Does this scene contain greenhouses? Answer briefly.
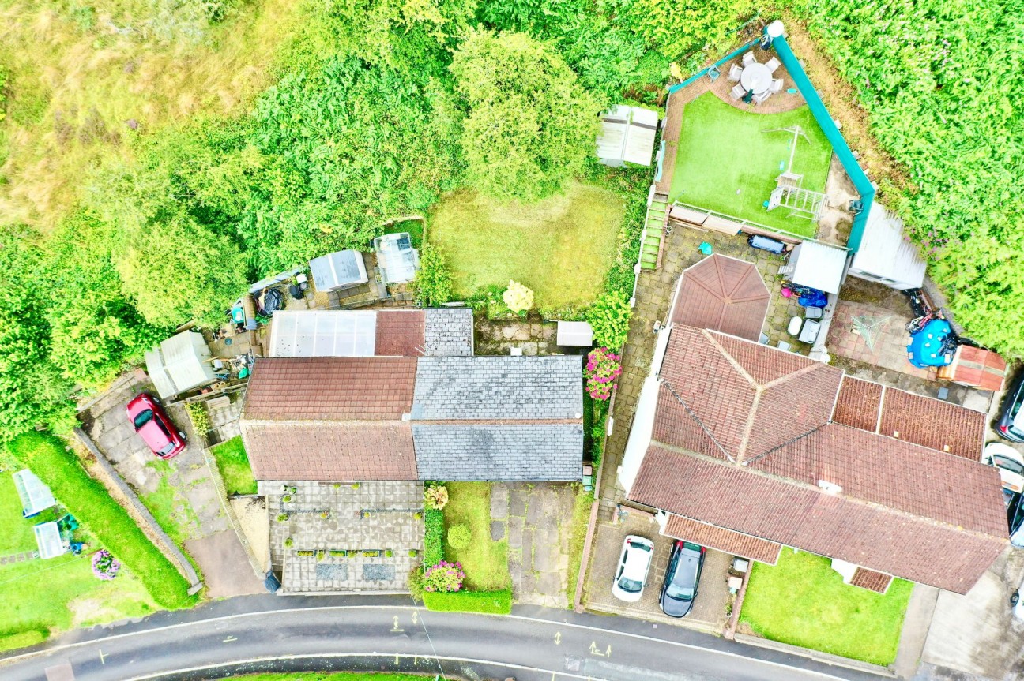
Yes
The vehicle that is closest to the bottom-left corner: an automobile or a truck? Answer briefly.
automobile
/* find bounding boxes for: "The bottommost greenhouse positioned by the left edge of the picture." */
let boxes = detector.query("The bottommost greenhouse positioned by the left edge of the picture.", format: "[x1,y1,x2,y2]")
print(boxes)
[33,519,76,560]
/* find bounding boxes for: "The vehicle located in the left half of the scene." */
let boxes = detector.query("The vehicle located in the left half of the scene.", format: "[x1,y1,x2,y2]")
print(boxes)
[122,392,182,466]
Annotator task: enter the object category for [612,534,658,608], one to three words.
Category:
car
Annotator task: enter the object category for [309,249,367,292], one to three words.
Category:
shed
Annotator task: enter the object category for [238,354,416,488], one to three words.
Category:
house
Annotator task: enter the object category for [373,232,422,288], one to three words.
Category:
greenhouse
